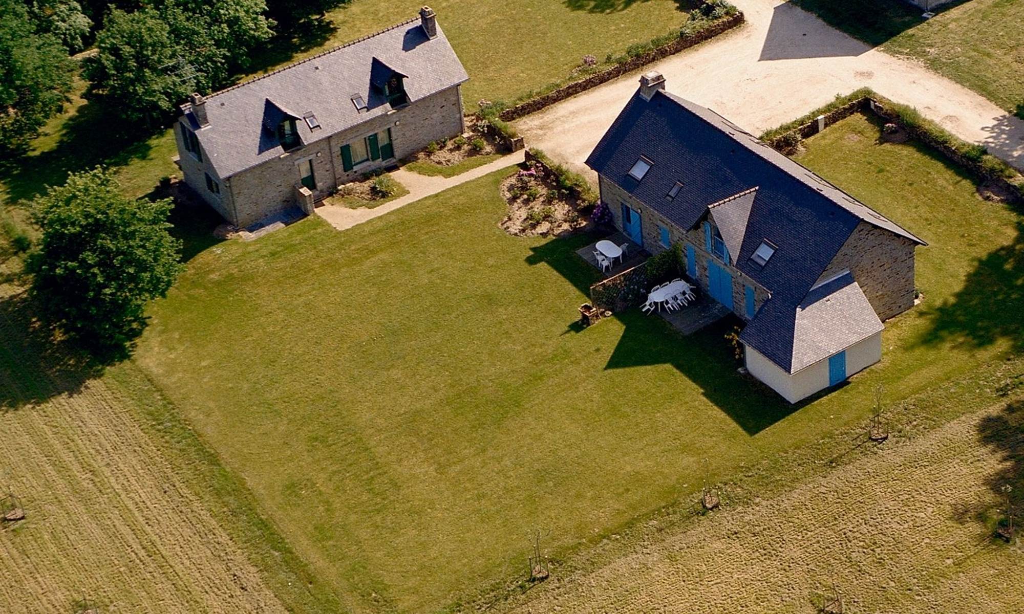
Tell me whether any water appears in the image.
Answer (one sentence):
No, there's no water in this view.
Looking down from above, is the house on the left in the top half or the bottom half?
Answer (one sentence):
The top half of the photo is where the house on the left is.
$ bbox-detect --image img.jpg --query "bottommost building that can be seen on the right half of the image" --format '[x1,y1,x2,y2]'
[584,67,925,404]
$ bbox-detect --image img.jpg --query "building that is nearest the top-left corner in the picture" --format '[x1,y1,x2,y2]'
[161,2,469,228]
